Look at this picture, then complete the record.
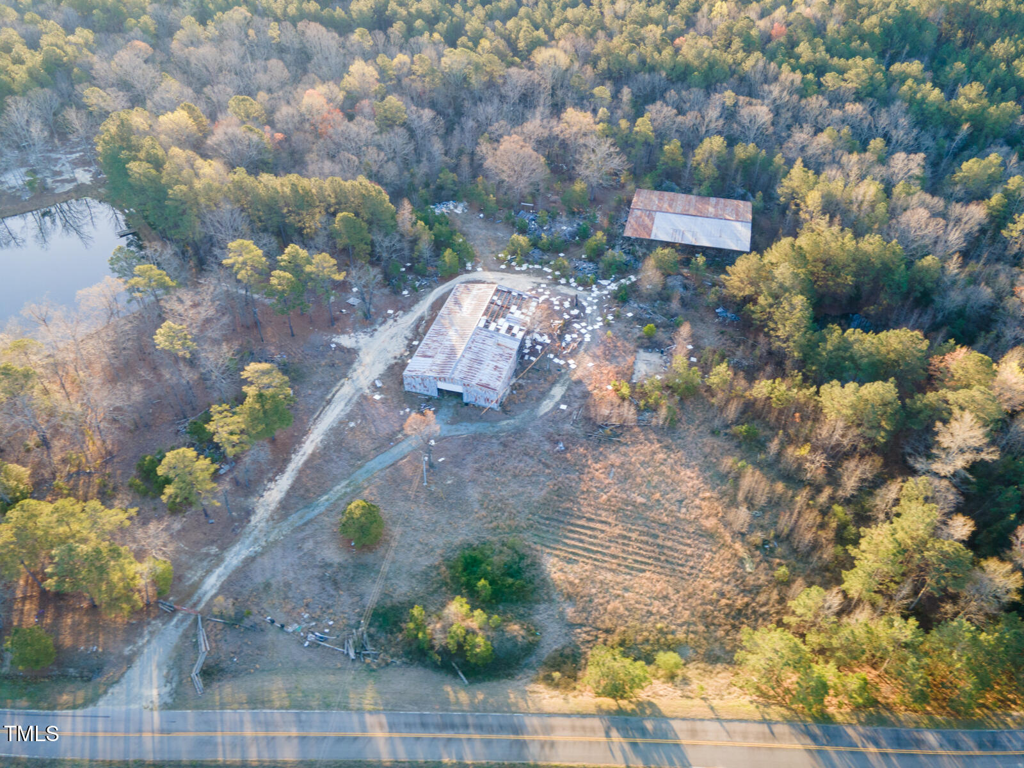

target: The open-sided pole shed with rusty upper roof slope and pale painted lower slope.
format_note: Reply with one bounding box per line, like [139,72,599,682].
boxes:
[623,188,751,262]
